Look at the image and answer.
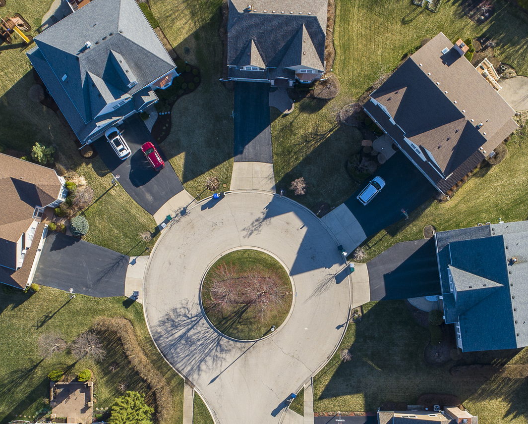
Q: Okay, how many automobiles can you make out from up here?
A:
three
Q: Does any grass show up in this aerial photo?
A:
Yes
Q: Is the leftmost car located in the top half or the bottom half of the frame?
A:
top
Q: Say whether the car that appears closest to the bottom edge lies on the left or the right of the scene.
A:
right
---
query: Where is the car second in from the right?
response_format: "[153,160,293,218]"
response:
[141,139,164,173]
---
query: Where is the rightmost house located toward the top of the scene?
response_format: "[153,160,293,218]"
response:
[362,31,519,196]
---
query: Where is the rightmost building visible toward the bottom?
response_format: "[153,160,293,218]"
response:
[434,220,528,352]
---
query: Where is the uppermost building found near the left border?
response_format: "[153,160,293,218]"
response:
[26,0,177,144]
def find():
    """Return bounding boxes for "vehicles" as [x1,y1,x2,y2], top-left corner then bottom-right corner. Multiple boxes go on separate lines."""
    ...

[104,125,131,162]
[357,173,385,208]
[141,139,164,173]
